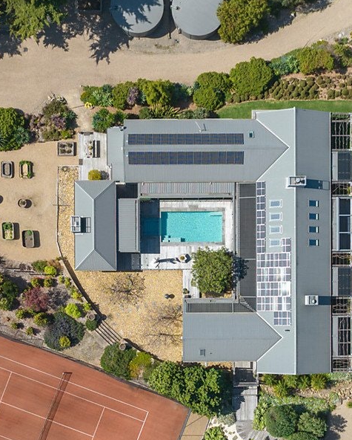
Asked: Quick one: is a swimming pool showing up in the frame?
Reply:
Yes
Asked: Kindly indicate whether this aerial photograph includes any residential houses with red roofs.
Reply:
No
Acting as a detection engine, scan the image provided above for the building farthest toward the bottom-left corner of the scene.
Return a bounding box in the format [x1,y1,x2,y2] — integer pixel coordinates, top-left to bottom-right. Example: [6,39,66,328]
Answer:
[71,180,140,272]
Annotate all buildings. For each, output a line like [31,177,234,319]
[71,180,140,272]
[108,104,332,387]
